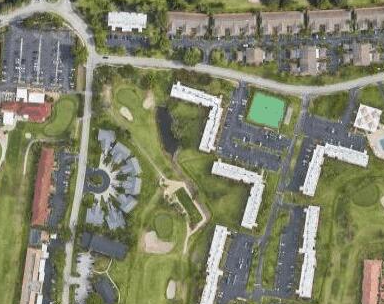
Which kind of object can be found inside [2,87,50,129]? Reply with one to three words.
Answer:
building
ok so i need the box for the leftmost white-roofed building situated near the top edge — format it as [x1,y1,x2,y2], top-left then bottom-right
[108,11,148,27]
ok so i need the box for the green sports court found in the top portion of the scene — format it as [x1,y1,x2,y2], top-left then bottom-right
[248,93,285,127]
